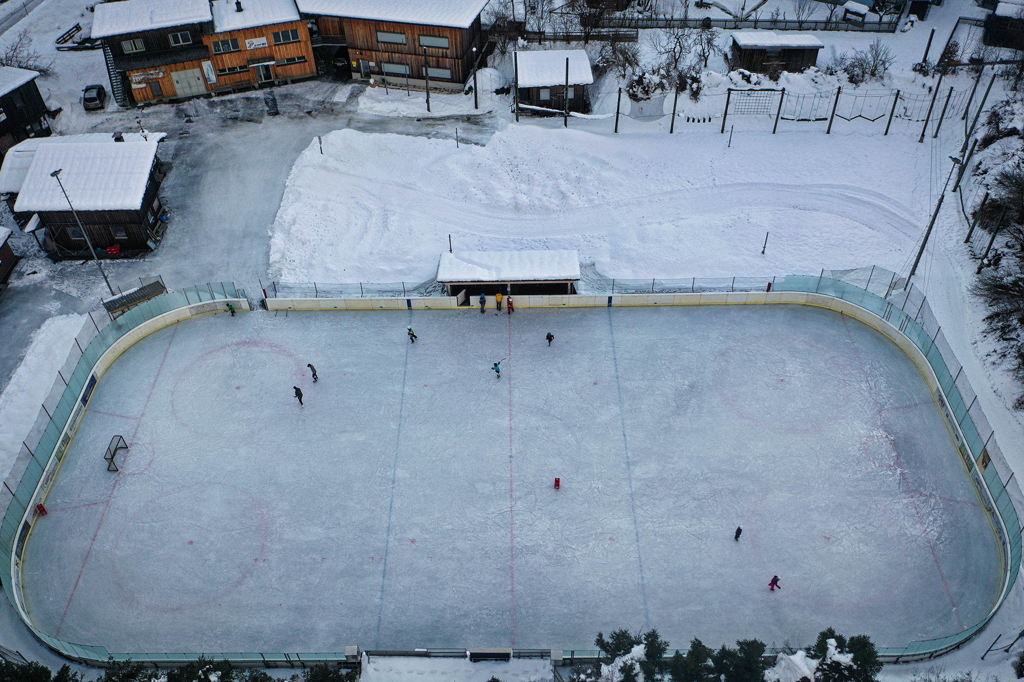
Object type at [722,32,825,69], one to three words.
shed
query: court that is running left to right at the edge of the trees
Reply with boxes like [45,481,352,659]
[11,307,1010,676]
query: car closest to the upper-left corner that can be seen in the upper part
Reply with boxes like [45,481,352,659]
[80,84,107,108]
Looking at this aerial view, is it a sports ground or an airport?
sports ground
